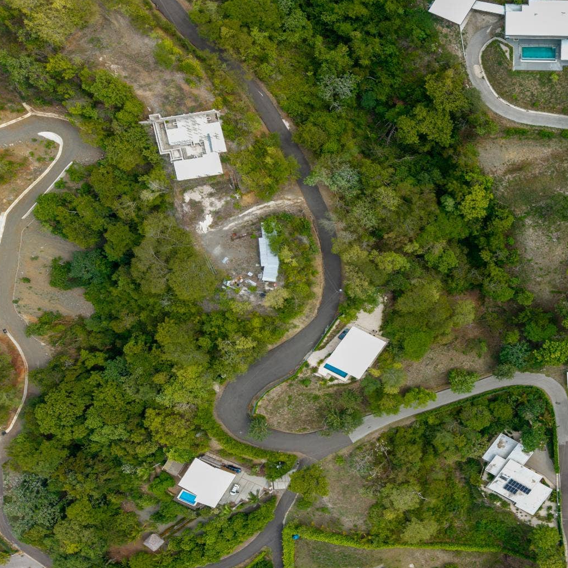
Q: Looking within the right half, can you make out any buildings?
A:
Yes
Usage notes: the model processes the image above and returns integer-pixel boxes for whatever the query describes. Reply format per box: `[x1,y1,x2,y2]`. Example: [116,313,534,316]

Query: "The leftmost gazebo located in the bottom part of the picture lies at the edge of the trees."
[143,531,168,550]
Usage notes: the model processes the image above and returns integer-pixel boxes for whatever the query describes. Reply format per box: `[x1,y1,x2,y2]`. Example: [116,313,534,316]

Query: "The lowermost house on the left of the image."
[173,457,236,512]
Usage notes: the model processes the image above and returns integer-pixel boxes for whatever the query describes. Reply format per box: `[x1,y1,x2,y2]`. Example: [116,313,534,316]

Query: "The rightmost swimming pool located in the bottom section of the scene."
[323,363,349,379]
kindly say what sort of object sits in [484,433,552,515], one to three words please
house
